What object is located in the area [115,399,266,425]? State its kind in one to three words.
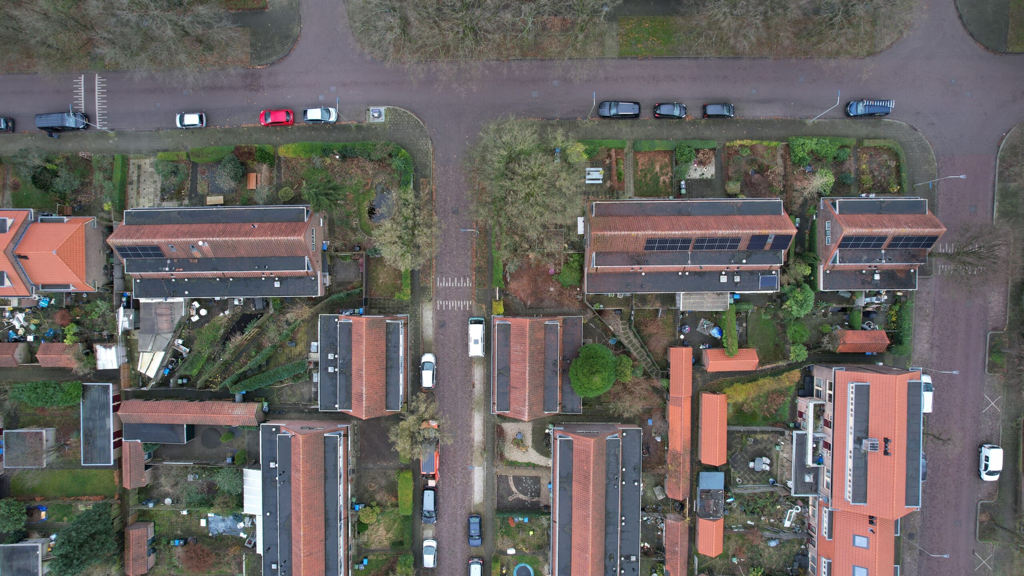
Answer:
shed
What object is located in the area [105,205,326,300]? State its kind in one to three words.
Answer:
house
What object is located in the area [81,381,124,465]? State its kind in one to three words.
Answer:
building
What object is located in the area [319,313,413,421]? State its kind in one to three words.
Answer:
house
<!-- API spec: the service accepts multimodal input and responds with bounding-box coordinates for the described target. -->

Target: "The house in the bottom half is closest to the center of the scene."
[489,315,583,422]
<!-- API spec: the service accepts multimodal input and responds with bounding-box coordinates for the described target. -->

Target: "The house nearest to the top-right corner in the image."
[809,197,948,290]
